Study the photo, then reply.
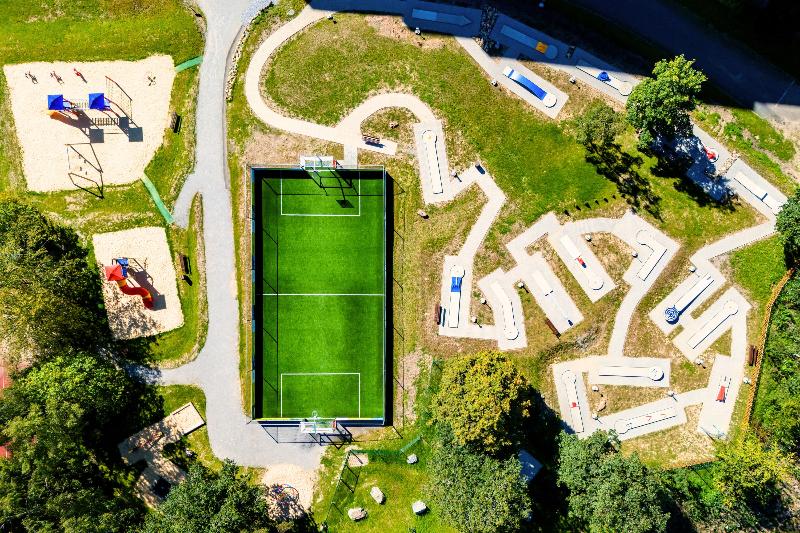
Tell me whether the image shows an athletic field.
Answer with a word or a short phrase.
Yes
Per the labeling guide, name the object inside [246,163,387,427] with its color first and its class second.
green sports field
